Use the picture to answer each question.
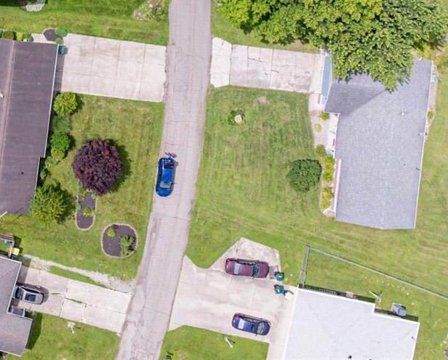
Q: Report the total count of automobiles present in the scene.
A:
four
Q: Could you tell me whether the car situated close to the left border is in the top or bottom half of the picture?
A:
bottom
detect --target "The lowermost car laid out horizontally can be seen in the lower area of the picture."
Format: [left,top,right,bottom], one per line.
[229,310,273,336]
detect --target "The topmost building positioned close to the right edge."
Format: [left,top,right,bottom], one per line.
[317,51,431,230]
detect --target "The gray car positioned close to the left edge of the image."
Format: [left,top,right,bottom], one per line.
[12,281,46,306]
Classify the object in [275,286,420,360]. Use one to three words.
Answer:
house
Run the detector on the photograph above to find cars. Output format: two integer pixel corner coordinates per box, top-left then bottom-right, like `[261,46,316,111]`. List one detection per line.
[225,257,267,279]
[12,281,46,306]
[229,310,273,336]
[155,158,175,196]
